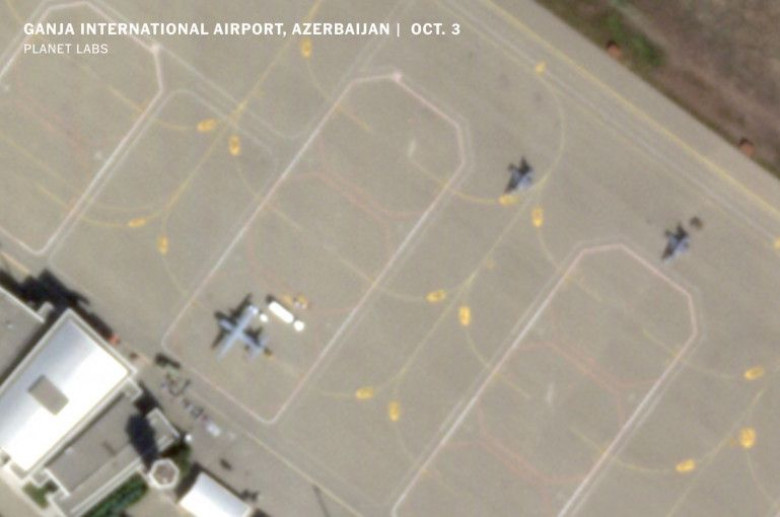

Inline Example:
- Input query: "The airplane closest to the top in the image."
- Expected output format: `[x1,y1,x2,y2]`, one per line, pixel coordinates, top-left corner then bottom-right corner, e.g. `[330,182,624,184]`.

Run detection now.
[511,164,538,193]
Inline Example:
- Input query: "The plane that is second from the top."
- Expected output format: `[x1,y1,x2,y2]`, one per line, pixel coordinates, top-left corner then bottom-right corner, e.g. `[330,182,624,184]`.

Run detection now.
[667,229,693,257]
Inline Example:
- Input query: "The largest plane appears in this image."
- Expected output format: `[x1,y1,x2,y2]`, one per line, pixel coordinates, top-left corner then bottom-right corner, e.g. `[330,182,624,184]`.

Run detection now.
[218,306,269,360]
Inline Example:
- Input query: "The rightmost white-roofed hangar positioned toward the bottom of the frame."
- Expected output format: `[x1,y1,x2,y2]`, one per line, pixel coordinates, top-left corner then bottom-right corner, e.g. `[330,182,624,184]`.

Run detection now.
[177,472,250,517]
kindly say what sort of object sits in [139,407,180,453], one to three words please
building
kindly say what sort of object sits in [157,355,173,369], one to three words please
vehicle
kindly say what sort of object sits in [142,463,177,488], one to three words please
building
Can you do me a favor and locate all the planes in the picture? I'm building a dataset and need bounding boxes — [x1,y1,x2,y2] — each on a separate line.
[511,164,538,193]
[218,306,269,360]
[667,229,693,257]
